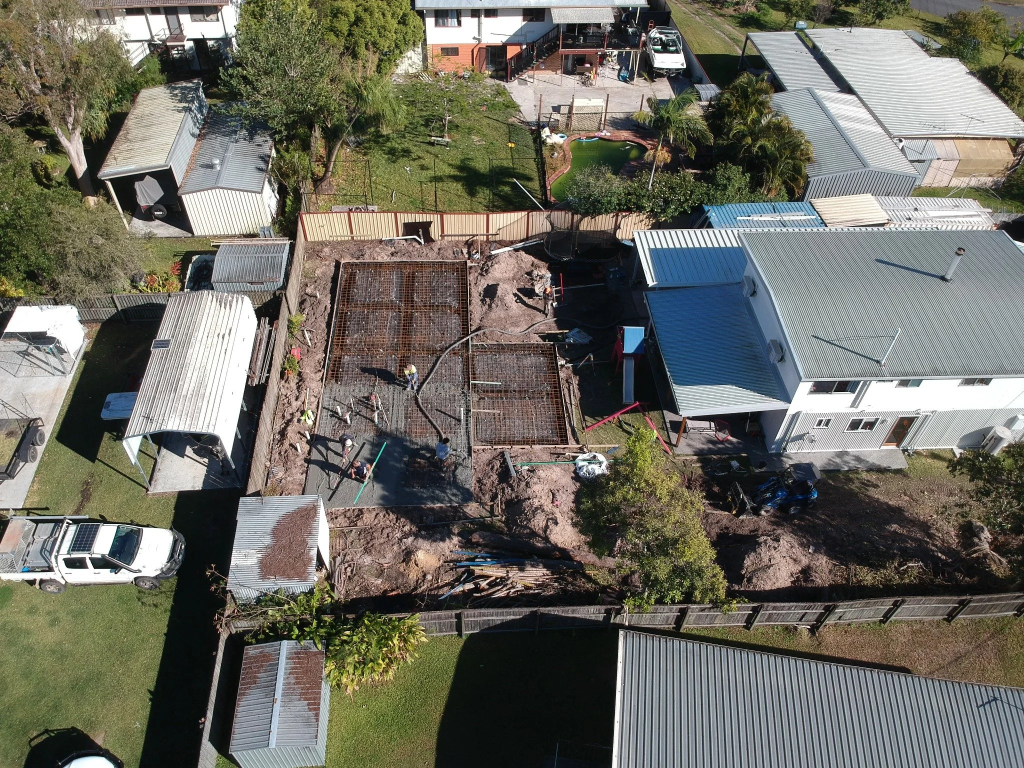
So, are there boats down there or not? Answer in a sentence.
Yes, a boat is visible in the scene.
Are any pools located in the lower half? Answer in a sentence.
No, there's no pool to be seen in the lower half.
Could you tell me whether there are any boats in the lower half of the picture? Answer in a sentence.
No, I can find no boat in the lower half of the picture.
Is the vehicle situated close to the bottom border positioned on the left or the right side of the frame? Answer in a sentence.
The vehicle situated close to the bottom border is on the left side of the image.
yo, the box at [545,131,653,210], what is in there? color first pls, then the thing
green swimming pool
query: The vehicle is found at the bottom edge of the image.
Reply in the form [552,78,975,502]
[57,732,128,768]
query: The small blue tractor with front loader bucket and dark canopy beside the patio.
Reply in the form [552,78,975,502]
[719,459,836,516]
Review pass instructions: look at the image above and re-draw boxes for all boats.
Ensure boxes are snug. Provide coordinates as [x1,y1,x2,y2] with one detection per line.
[650,22,683,75]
